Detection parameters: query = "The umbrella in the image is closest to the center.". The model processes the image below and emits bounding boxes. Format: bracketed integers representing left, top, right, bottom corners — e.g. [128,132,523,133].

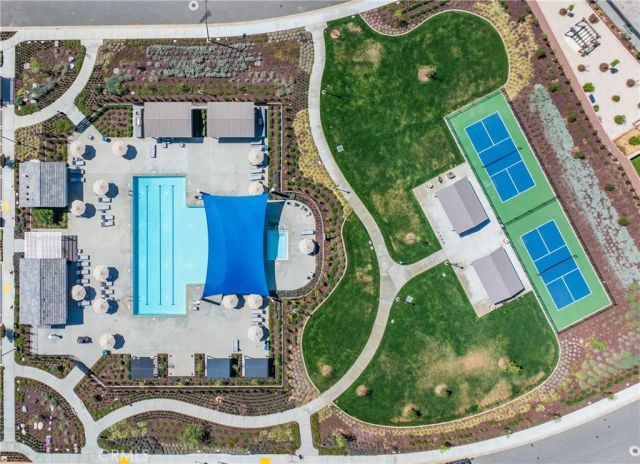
[298,238,314,255]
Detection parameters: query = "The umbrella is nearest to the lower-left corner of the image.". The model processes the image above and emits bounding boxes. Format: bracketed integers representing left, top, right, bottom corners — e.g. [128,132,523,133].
[99,333,116,349]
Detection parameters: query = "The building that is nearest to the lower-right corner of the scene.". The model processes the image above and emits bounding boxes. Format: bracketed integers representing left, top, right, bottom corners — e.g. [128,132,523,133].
[468,246,526,306]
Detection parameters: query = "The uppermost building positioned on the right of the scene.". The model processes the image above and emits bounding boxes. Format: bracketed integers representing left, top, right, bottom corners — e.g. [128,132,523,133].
[432,176,489,236]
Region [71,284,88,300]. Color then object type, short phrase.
white umbrella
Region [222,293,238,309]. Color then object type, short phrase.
white umbrella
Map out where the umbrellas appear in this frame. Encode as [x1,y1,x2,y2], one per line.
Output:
[248,326,264,342]
[93,264,109,280]
[298,238,314,255]
[222,293,238,309]
[248,149,264,165]
[71,284,88,300]
[93,298,109,315]
[113,141,129,156]
[248,179,264,196]
[94,179,109,195]
[71,140,87,156]
[246,293,262,310]
[70,200,86,216]
[99,333,116,349]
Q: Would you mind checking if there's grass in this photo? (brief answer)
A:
Yes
